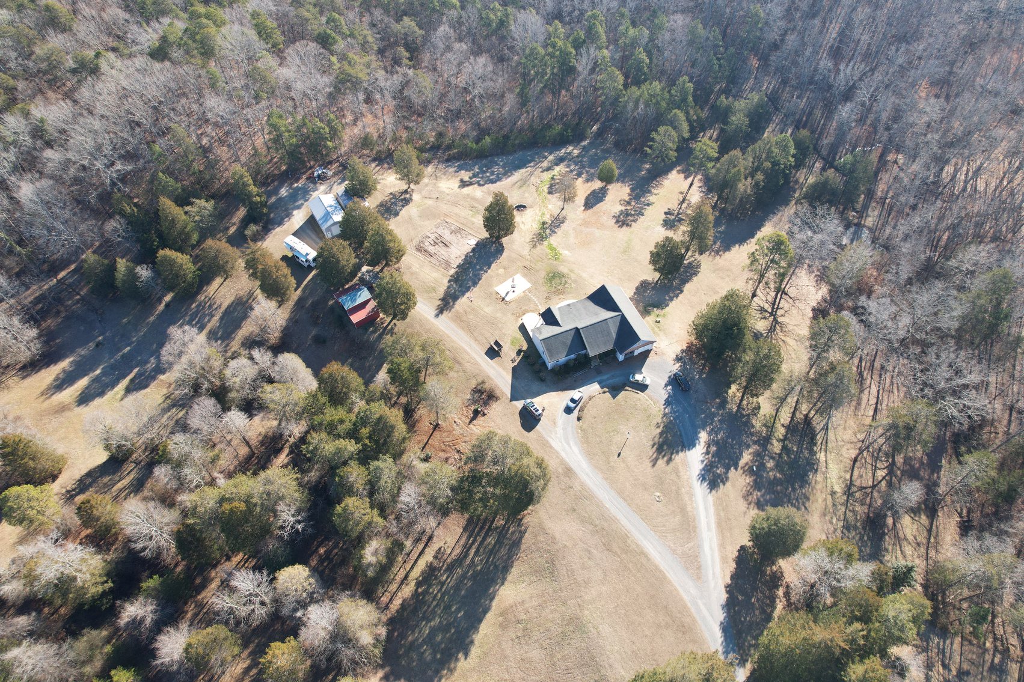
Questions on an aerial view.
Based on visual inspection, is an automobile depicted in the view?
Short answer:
Yes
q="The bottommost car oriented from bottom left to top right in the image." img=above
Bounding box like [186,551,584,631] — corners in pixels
[564,389,585,412]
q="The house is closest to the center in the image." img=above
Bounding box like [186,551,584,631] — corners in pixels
[531,280,657,369]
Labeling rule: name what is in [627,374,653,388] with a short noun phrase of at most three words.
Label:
car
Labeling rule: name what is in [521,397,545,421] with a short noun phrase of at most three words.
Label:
car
